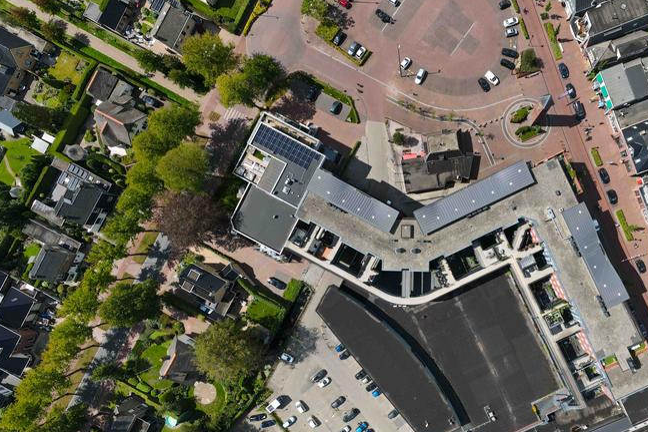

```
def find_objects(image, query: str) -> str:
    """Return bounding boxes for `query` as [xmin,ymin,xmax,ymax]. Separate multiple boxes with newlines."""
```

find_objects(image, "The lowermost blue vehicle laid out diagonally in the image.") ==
[354,418,370,432]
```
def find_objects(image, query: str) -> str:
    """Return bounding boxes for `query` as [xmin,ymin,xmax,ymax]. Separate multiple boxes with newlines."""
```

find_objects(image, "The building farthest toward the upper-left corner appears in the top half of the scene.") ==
[0,26,39,67]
